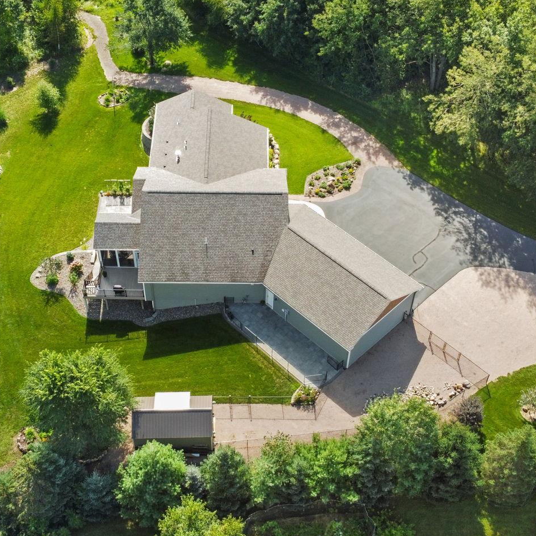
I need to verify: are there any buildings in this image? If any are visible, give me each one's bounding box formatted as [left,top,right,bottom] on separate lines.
[81,88,423,369]
[130,389,214,453]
